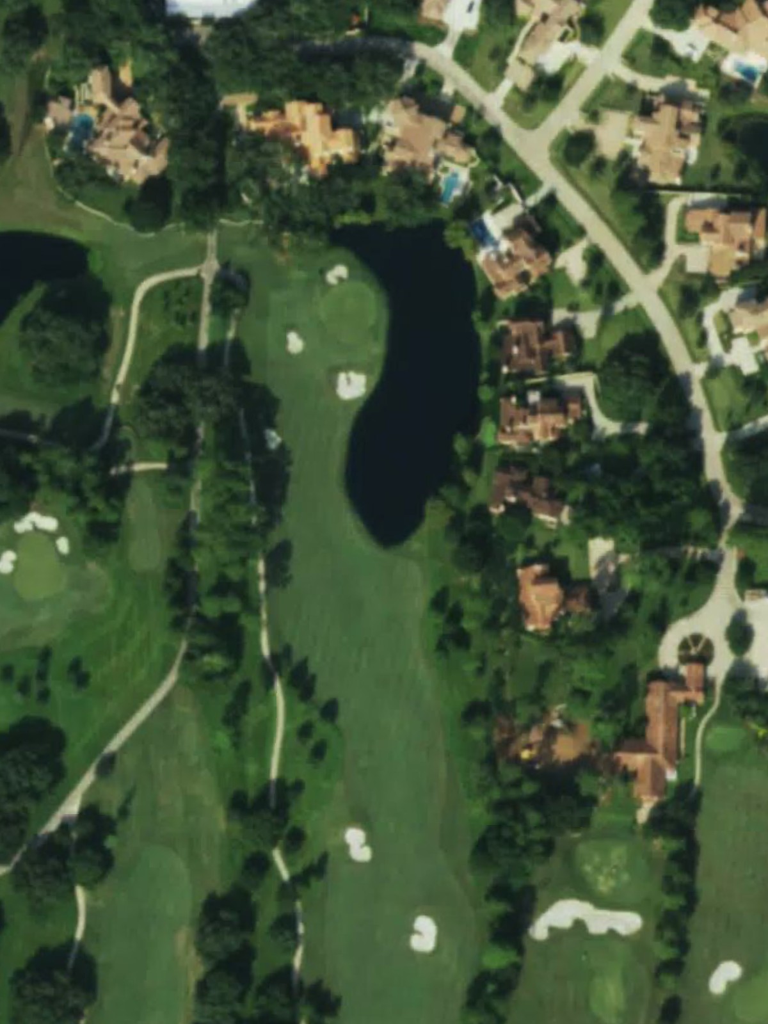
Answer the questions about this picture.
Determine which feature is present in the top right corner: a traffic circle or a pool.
pool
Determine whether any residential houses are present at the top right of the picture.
Yes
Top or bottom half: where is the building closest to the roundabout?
bottom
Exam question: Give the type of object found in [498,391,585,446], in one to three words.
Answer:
house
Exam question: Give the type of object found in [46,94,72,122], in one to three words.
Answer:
building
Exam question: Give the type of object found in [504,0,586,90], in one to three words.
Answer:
house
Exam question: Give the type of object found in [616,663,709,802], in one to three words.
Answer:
building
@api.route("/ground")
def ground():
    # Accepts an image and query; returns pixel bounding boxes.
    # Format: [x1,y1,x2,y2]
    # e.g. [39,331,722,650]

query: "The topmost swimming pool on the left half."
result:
[63,105,97,155]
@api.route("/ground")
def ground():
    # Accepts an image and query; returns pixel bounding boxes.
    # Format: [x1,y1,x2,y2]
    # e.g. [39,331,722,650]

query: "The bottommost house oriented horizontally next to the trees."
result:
[491,714,592,766]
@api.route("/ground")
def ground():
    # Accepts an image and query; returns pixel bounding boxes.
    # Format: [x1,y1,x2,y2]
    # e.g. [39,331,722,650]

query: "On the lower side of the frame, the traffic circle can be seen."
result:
[677,632,714,666]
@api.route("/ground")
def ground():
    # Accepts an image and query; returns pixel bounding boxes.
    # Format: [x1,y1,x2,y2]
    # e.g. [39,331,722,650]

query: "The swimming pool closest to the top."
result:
[722,55,767,85]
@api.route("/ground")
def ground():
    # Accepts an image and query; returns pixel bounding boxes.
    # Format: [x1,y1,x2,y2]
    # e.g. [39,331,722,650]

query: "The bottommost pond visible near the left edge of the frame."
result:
[0,232,89,322]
